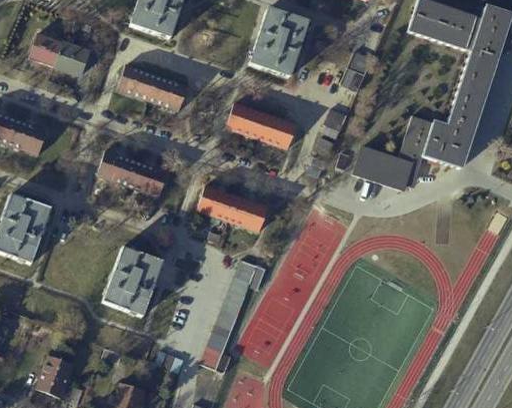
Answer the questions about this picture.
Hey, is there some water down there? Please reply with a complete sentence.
No, there is no water in the image.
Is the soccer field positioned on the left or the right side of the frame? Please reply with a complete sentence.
It is on the right.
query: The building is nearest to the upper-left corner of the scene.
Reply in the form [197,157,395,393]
[31,38,91,80]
